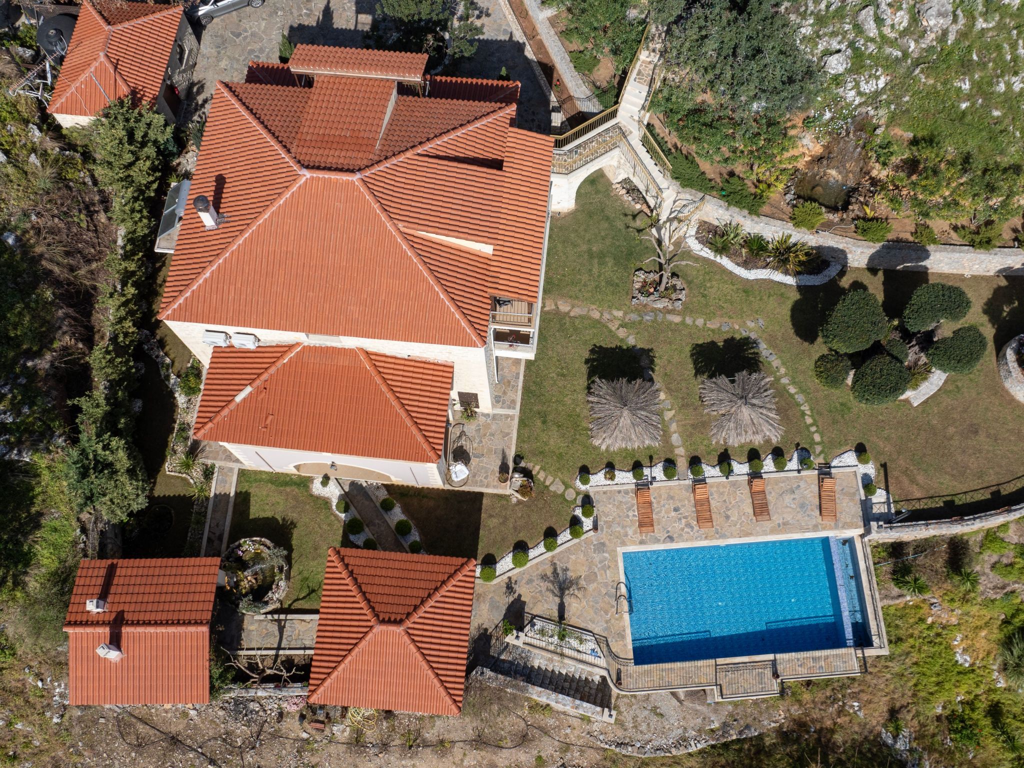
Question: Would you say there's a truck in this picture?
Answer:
No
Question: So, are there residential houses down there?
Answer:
Yes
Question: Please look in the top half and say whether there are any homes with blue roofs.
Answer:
No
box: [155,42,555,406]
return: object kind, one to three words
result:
house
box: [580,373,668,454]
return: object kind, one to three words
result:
umbrella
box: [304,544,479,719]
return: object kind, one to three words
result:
building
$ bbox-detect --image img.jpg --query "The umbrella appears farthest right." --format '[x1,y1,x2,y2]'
[692,366,783,454]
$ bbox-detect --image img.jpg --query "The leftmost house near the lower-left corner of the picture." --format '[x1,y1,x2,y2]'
[64,556,221,705]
